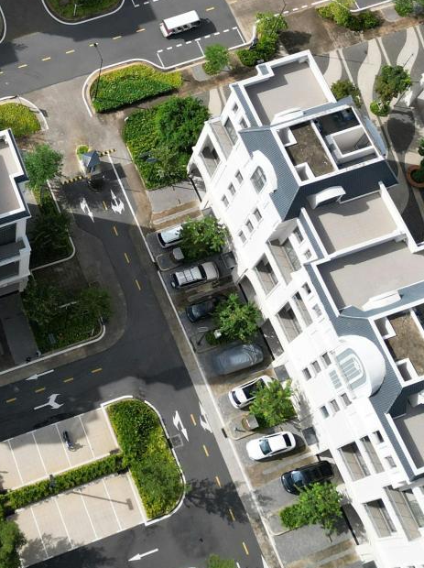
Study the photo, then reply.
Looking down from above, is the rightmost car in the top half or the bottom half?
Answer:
bottom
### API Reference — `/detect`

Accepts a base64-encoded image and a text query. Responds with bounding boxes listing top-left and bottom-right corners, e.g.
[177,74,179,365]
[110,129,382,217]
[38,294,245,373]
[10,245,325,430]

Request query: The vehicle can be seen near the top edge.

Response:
[156,6,208,39]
